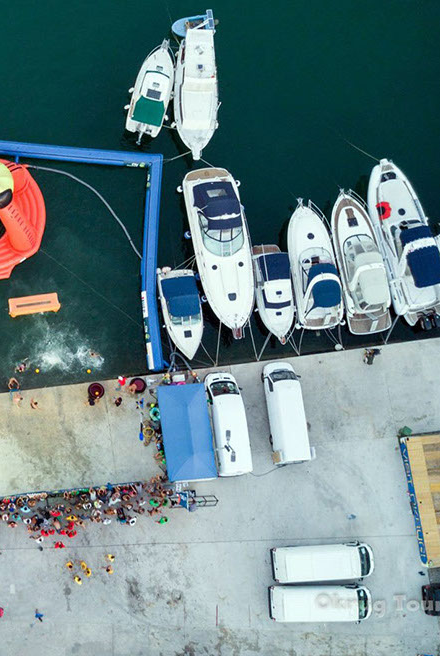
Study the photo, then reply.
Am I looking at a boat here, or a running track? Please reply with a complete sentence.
Of the two, only a boat appears.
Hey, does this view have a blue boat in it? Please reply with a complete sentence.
Yes, there's a blue boat down there.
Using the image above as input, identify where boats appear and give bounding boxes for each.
[162,10,220,167]
[162,14,218,42]
[256,246,301,358]
[330,186,391,340]
[170,170,260,363]
[158,270,213,366]
[124,38,179,145]
[341,147,440,341]
[279,192,346,351]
